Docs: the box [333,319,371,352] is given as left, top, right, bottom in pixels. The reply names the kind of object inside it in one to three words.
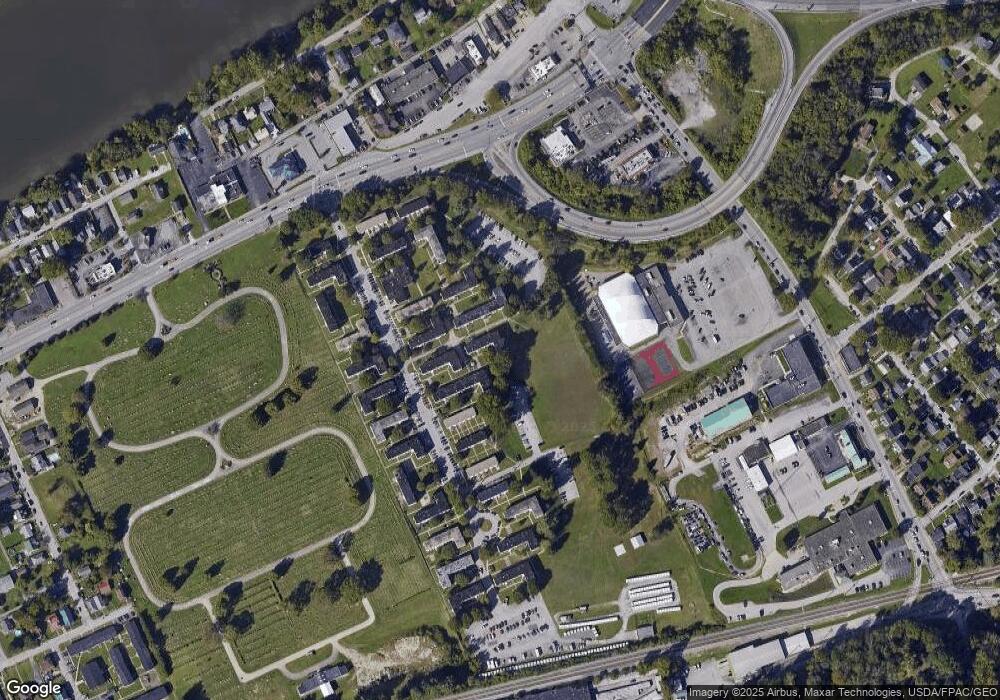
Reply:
building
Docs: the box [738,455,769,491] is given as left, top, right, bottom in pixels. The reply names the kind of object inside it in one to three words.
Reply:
shed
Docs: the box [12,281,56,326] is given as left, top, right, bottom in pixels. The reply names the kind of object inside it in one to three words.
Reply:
building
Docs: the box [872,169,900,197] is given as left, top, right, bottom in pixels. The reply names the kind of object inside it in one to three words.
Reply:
house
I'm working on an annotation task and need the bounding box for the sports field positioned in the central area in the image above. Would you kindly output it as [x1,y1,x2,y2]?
[531,308,612,443]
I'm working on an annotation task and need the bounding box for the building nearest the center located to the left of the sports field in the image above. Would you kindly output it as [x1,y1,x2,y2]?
[464,327,511,355]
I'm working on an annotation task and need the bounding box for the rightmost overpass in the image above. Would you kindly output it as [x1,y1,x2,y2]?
[715,174,750,208]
